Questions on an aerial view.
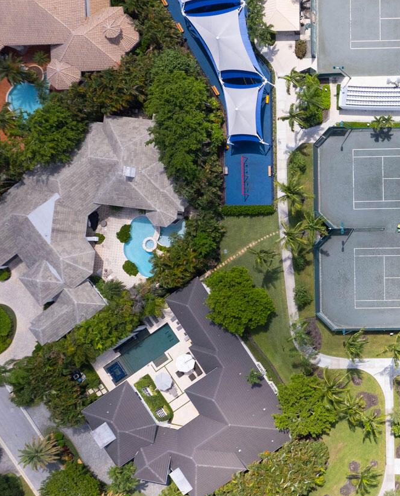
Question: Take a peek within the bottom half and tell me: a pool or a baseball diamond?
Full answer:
The one visible within the bottom half is a pool.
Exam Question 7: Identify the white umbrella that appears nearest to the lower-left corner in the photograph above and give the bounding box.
[156,372,174,389]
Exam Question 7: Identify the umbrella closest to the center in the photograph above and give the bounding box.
[177,353,197,371]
